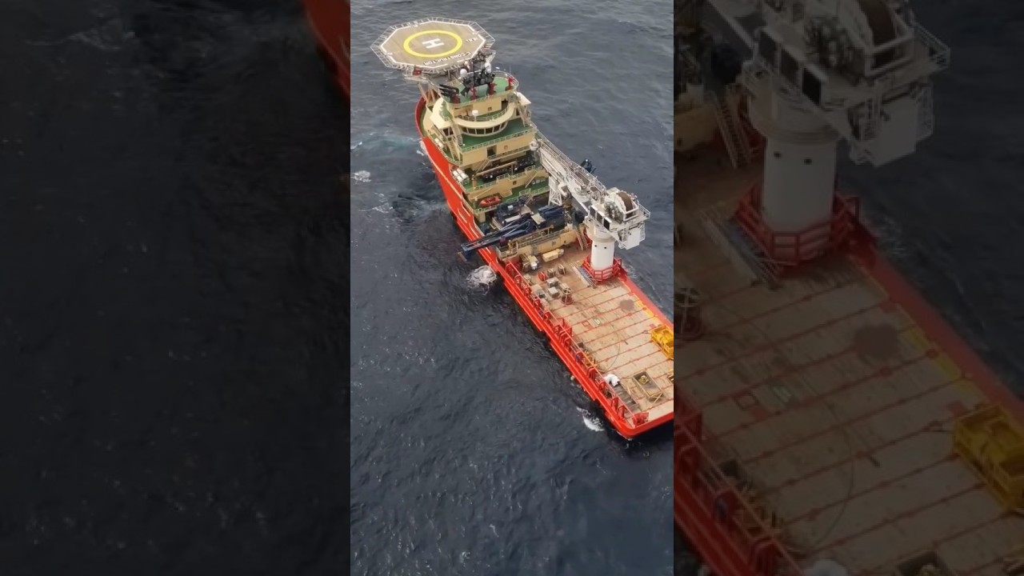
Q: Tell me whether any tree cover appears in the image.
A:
No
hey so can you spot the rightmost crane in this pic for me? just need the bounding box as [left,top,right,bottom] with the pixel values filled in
[529,135,653,281]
